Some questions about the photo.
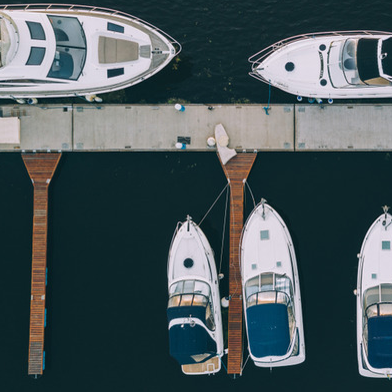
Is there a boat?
Yes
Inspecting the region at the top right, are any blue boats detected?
No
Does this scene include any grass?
No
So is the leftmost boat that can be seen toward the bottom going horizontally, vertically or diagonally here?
vertically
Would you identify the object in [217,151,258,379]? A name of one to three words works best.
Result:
pier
